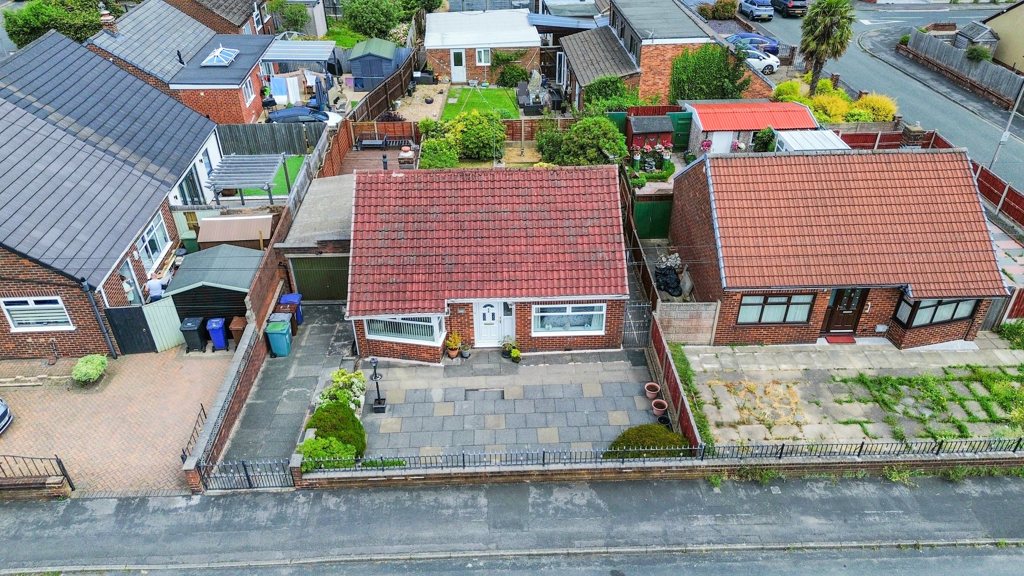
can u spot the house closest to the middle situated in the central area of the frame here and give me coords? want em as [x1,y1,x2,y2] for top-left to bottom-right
[344,144,632,361]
